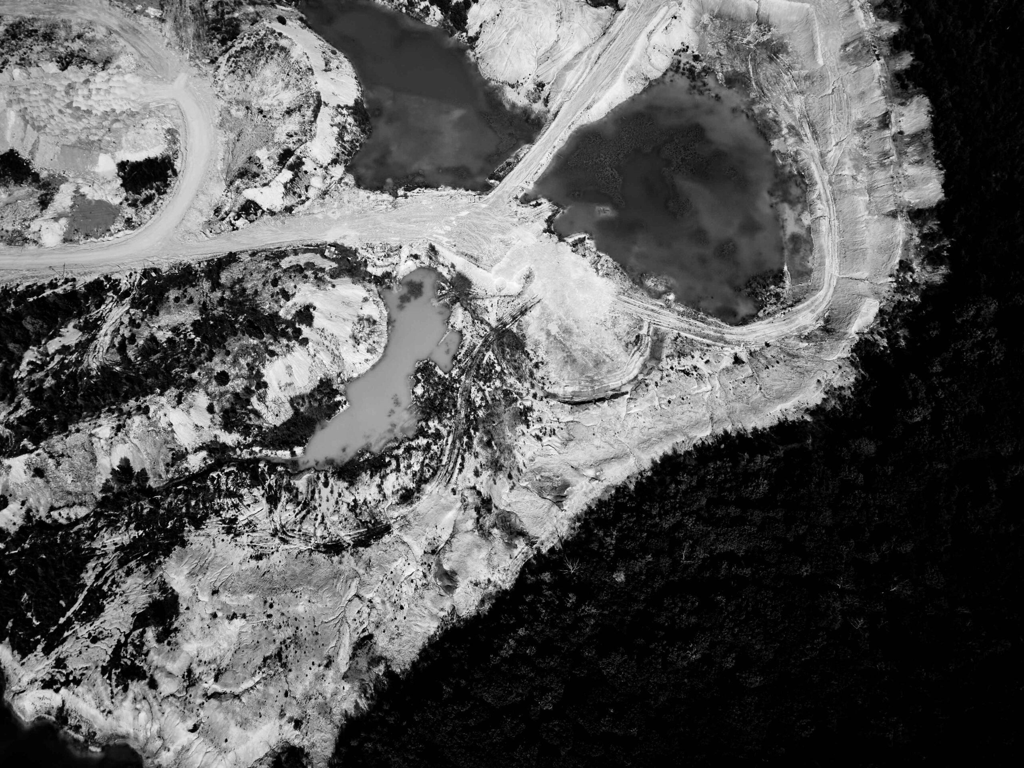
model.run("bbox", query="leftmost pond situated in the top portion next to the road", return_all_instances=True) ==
[64,191,122,241]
